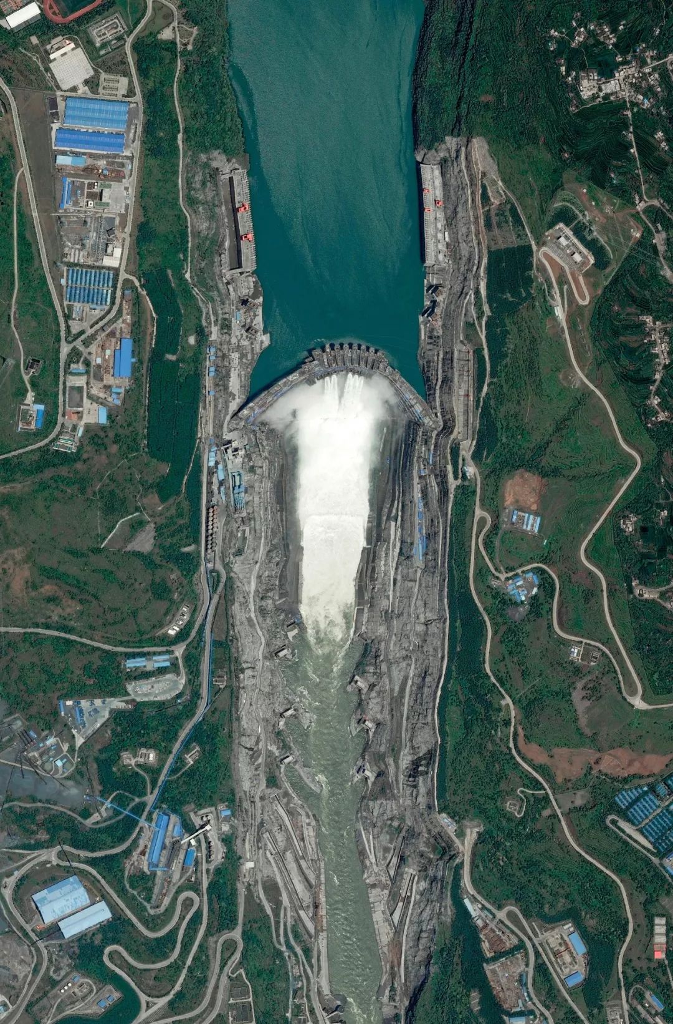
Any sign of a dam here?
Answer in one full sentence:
Yes, there's a dam here.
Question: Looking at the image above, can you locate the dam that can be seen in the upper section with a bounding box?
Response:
[229,344,442,432]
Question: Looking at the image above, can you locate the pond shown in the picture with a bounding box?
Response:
[227,0,429,407]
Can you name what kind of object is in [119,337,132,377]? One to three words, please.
building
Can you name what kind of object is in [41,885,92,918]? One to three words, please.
building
